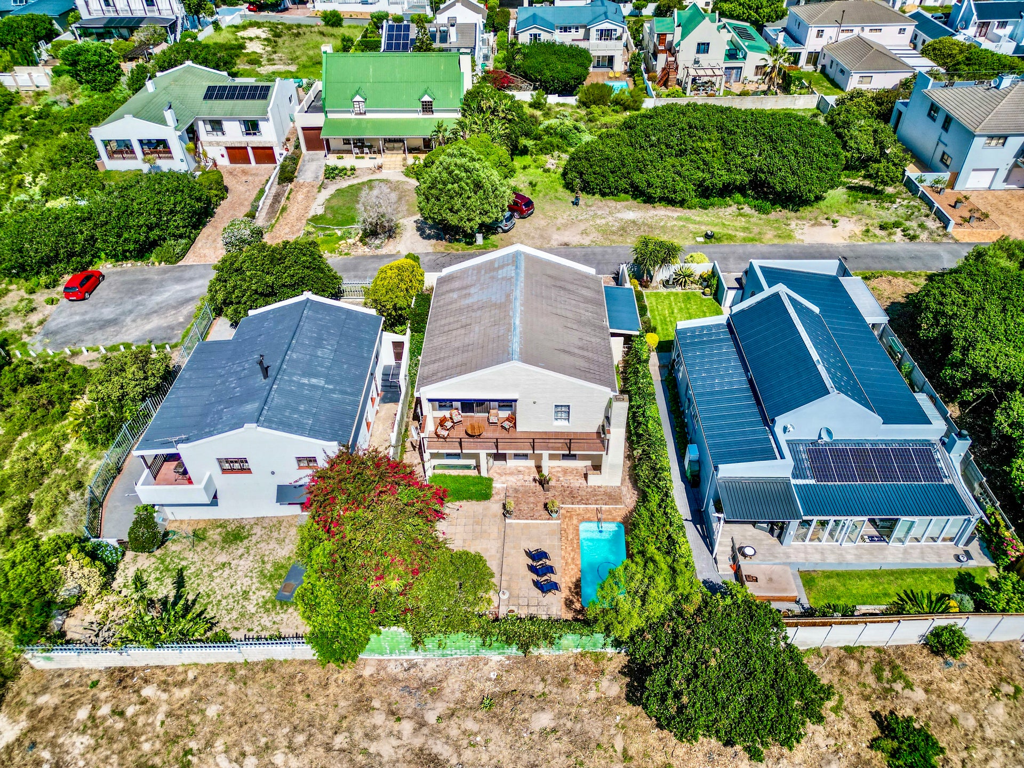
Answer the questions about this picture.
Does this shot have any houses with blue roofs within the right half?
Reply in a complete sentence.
Yes, a house with a blue roof is visible within the right half.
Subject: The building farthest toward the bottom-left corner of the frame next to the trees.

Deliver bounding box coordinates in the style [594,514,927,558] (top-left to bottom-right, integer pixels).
[119,289,407,517]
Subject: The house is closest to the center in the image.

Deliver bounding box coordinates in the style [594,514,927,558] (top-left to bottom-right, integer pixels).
[411,239,645,483]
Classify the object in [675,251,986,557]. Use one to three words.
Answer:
house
